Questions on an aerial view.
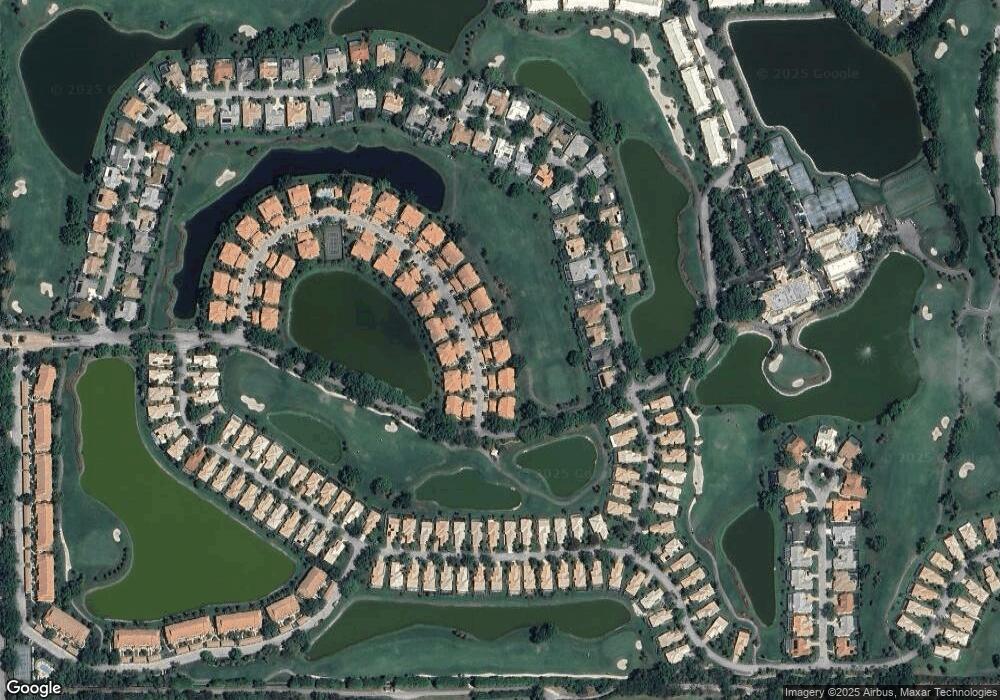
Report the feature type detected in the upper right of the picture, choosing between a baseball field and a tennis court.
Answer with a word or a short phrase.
tennis court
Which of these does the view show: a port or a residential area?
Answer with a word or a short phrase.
residential area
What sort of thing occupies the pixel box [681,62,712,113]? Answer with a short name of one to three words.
building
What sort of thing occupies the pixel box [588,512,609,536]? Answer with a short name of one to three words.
house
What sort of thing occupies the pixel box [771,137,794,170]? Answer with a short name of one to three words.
tennis court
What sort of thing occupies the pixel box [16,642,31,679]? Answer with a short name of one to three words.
tennis court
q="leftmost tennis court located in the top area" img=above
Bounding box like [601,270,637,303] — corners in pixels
[324,226,343,260]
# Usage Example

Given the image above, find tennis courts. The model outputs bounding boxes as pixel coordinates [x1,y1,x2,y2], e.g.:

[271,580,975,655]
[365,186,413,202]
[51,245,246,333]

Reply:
[804,190,822,212]
[823,202,844,221]
[788,160,814,194]
[771,137,794,170]
[324,226,343,260]
[16,642,31,679]
[817,185,838,206]
[833,179,858,215]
